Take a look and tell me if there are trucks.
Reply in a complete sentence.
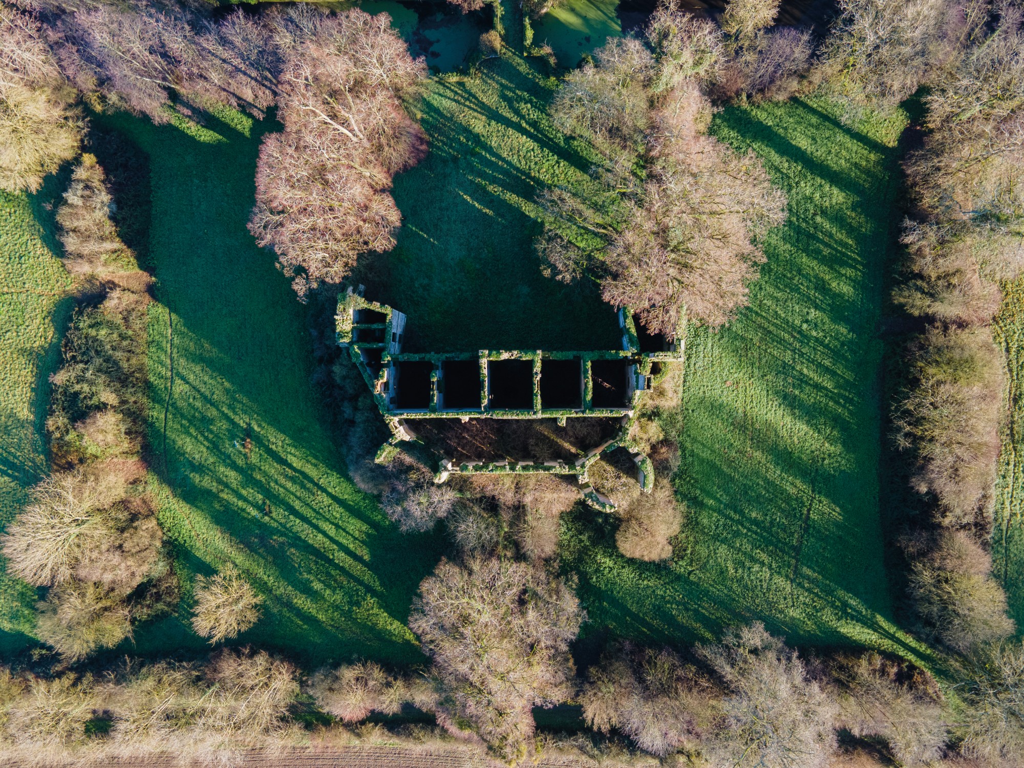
No, no truck is visible in the scene.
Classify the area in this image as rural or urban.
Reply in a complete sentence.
From above, the setting appears rural.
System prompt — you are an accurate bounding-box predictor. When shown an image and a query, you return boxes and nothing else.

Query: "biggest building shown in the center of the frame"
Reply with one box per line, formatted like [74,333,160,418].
[332,284,687,515]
